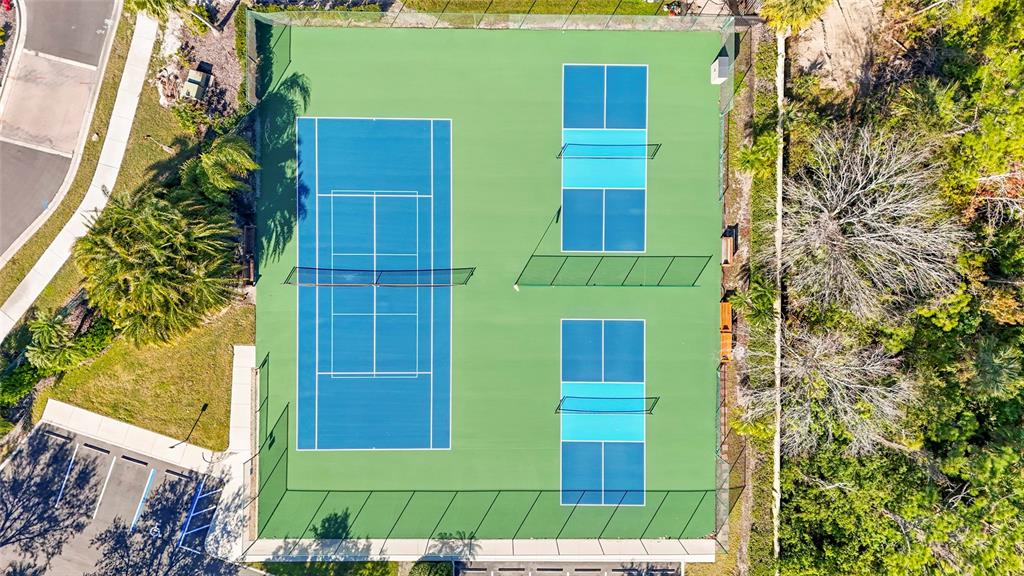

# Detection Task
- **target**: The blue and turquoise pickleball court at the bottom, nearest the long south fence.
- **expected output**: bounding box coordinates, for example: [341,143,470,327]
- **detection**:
[560,319,646,506]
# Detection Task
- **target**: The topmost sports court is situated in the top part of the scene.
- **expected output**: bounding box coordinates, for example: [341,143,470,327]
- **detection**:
[561,64,648,252]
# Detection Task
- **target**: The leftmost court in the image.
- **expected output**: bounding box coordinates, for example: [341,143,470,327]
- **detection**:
[297,118,452,450]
